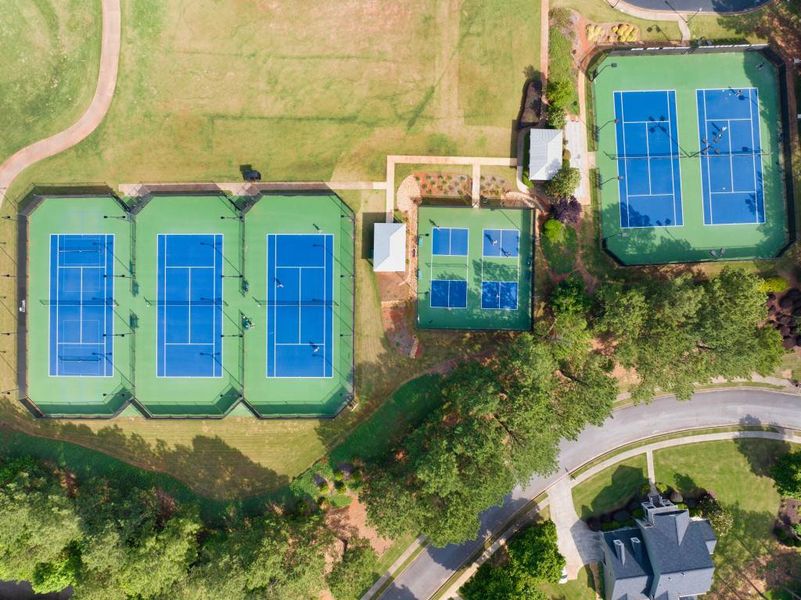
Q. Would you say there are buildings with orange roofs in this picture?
No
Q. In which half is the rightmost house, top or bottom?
bottom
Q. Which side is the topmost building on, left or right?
right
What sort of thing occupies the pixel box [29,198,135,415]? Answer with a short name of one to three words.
tennis court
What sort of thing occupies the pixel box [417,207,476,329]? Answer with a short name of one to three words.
sports court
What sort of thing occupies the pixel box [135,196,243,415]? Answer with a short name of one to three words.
tennis court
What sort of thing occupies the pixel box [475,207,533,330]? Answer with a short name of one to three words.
sports court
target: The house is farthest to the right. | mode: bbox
[596,485,718,600]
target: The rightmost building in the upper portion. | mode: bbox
[527,129,562,182]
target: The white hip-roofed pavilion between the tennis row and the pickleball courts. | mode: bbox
[374,223,406,272]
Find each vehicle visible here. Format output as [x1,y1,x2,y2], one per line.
[555,568,568,588]
[242,168,259,180]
